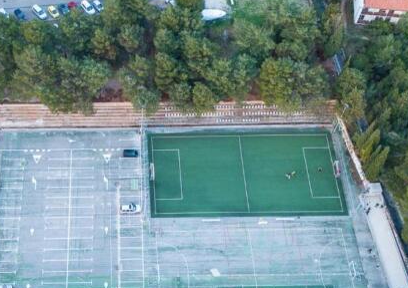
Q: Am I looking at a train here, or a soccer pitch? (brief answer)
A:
soccer pitch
